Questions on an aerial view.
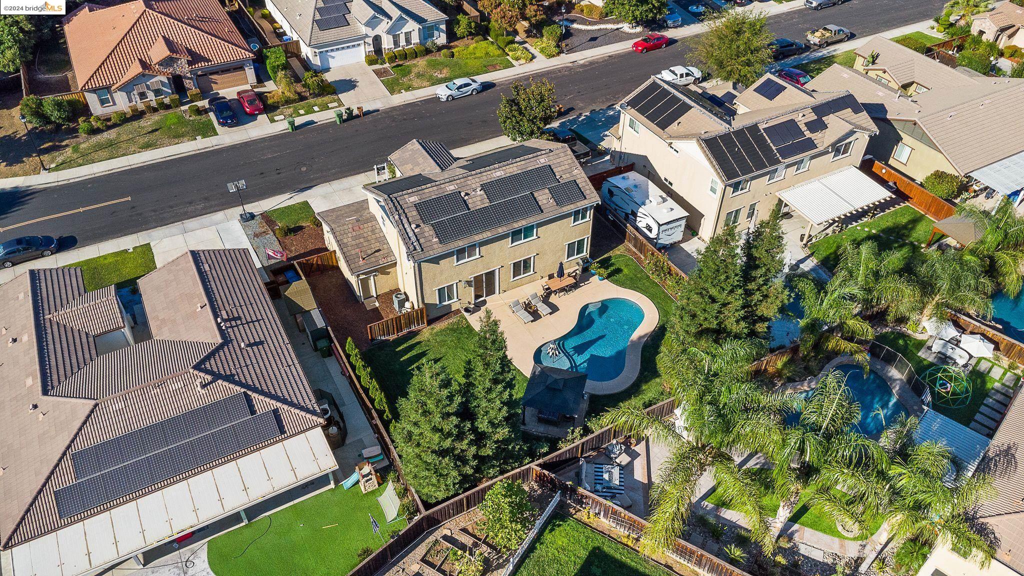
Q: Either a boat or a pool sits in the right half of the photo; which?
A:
pool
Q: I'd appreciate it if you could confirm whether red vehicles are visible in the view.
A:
Yes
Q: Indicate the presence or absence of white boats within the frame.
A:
No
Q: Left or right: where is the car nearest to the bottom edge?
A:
left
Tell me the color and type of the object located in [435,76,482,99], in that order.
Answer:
white car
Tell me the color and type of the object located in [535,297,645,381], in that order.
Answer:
blue swimming pool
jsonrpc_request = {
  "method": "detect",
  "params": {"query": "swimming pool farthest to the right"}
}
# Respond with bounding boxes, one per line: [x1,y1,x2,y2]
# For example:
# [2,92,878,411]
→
[961,272,1024,352]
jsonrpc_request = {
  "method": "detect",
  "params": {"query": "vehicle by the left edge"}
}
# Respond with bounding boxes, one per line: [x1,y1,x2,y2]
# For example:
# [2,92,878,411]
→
[0,232,60,265]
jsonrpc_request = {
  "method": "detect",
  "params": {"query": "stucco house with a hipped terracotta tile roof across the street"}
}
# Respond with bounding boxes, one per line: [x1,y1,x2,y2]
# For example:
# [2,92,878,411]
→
[54,0,255,113]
